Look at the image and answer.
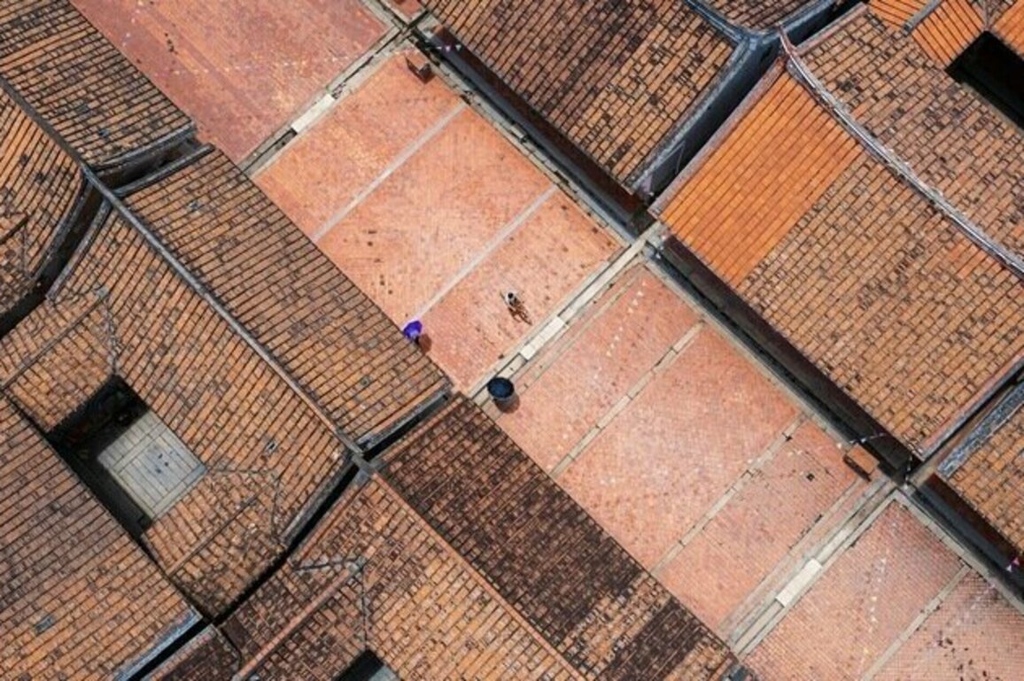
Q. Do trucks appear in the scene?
No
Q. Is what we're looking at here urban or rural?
urban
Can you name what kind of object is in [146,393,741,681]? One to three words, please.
house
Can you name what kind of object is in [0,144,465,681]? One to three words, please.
house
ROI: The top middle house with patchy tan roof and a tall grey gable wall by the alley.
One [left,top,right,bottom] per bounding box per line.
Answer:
[418,0,829,211]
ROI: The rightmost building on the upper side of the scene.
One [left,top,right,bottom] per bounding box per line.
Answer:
[648,0,1024,466]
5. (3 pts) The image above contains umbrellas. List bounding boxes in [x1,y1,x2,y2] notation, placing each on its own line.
[404,320,422,338]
